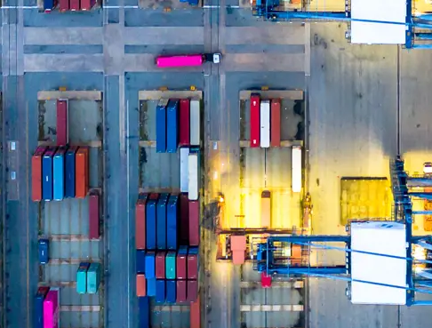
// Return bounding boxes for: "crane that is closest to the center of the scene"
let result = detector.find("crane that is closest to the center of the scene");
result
[209,193,317,264]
